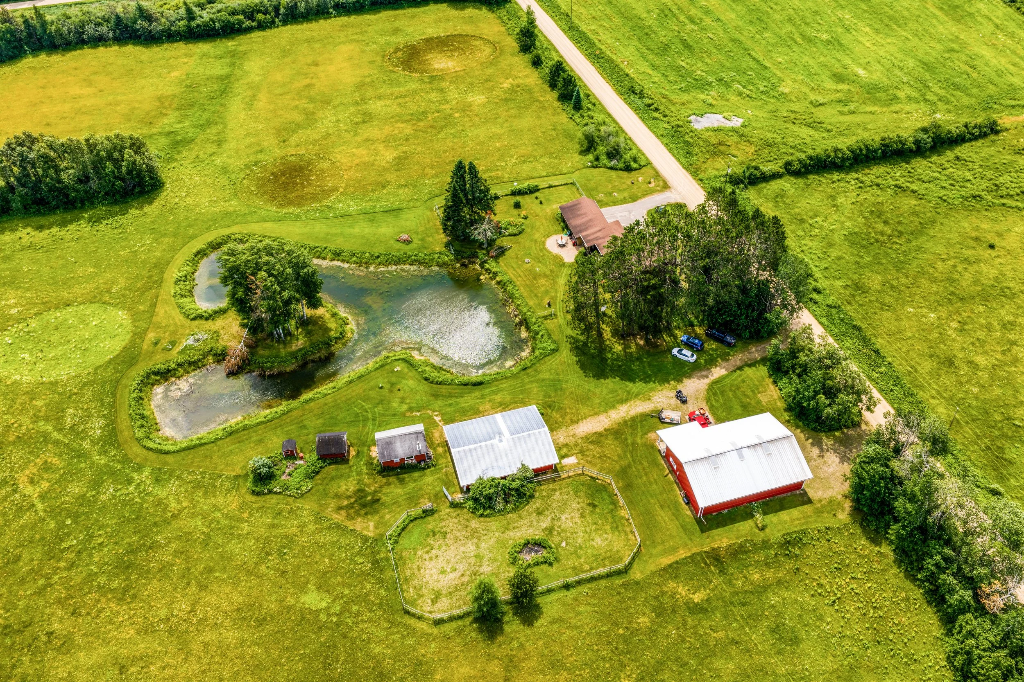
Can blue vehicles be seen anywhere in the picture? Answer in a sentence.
Yes, I can see a blue vehicle in this picture.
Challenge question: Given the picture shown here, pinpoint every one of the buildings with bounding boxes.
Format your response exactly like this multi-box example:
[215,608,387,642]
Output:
[439,405,559,493]
[316,432,349,461]
[282,438,297,458]
[652,413,812,525]
[558,196,627,254]
[374,424,429,468]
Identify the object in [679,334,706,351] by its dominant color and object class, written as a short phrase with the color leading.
blue car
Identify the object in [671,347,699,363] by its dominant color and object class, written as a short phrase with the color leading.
white car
